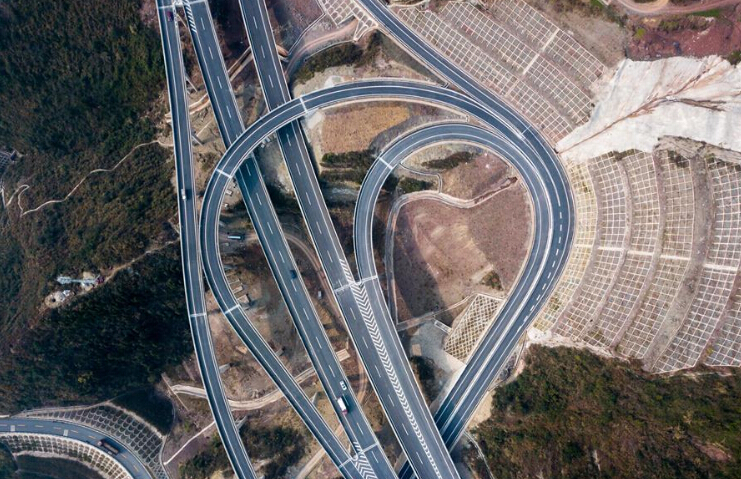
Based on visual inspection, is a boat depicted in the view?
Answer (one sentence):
No, the photo shows no boat.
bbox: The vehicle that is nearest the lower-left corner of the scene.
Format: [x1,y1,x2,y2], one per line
[97,441,116,456]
